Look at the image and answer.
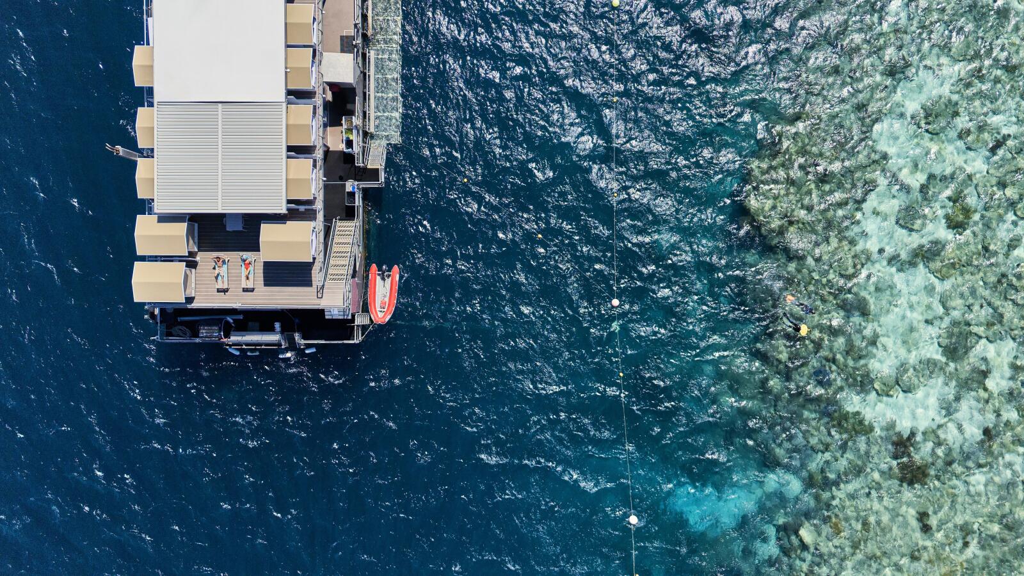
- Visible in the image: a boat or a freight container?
boat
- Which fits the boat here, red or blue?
red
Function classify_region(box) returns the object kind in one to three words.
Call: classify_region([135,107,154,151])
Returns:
tent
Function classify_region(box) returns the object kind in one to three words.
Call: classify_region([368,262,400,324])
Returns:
boat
